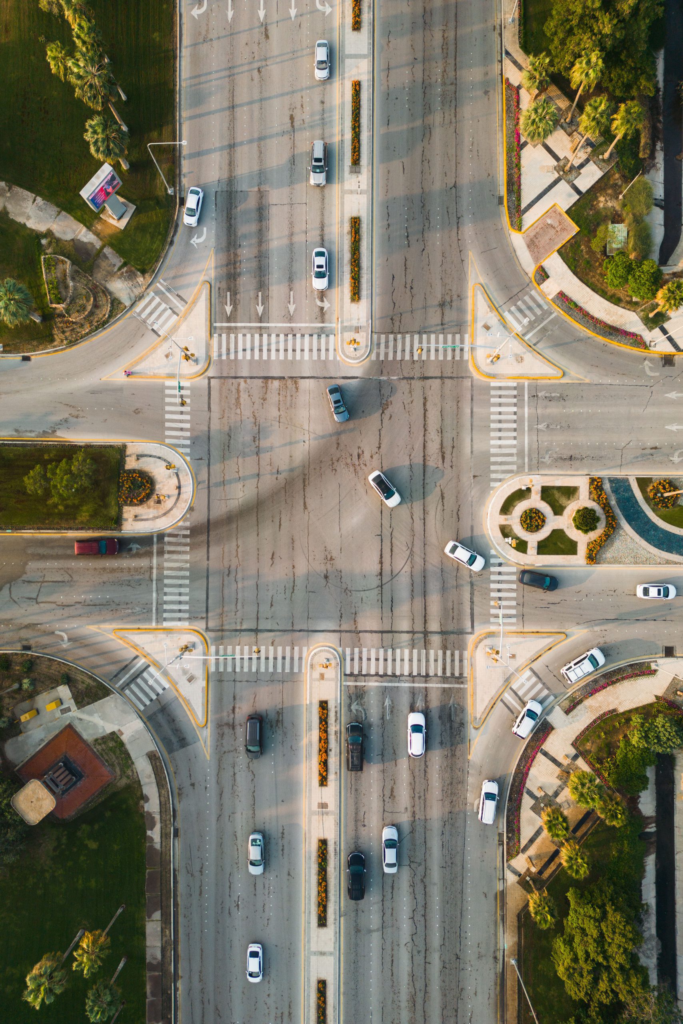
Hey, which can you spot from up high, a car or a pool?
car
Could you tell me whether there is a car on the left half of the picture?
Yes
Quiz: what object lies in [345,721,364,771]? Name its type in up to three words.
vehicle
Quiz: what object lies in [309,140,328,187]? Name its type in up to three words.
car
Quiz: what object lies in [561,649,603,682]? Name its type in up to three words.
car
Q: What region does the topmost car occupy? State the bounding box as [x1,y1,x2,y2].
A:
[313,40,331,82]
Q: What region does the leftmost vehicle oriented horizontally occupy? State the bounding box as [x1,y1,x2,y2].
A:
[75,537,120,556]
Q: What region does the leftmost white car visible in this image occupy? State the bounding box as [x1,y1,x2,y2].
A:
[183,187,204,228]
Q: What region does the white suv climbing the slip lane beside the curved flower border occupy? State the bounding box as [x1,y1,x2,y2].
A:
[478,780,500,824]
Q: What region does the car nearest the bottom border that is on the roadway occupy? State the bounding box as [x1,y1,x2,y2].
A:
[245,943,264,982]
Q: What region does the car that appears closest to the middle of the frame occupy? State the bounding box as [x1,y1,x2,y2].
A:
[370,469,399,509]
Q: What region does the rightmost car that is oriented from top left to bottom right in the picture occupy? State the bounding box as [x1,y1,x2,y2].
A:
[445,541,483,570]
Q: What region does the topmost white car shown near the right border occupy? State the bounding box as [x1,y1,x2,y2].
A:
[635,583,676,601]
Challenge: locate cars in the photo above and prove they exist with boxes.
[311,248,330,291]
[313,40,331,82]
[309,140,328,187]
[75,537,120,556]
[518,570,559,591]
[183,187,204,228]
[245,943,264,982]
[512,700,541,739]
[370,469,399,509]
[635,583,676,601]
[561,649,603,682]
[326,383,350,424]
[247,832,265,873]
[346,852,366,901]
[478,780,500,824]
[381,825,400,872]
[244,714,263,758]
[445,541,483,570]
[407,713,426,756]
